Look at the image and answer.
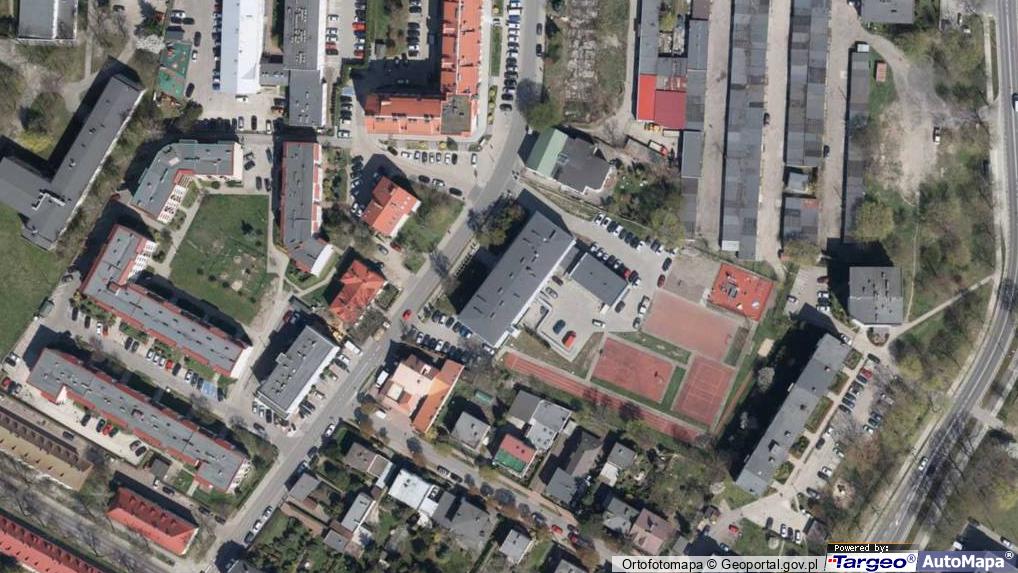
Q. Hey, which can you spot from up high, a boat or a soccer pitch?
soccer pitch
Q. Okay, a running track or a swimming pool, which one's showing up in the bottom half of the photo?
running track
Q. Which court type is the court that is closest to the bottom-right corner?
tennis court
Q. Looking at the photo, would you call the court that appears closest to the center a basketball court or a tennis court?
basketball court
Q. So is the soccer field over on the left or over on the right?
right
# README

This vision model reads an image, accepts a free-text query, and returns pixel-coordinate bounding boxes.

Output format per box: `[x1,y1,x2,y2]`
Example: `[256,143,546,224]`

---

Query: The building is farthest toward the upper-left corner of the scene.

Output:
[18,0,79,40]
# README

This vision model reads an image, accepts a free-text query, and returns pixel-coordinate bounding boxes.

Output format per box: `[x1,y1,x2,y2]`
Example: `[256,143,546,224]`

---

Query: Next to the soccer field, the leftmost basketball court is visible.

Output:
[591,335,676,403]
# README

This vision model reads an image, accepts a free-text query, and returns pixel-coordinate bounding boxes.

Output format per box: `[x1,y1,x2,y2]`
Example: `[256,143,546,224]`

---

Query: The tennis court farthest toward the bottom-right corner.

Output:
[673,354,738,429]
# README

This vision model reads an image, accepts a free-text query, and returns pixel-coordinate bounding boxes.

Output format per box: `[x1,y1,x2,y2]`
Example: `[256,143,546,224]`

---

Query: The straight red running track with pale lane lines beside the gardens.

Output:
[503,352,706,443]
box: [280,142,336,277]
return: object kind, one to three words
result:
building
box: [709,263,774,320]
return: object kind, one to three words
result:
playground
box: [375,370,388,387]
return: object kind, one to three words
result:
vehicle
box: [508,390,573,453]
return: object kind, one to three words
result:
house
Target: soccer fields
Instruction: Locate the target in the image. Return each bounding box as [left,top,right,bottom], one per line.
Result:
[641,289,741,363]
